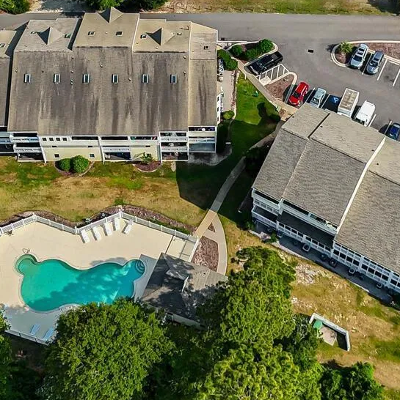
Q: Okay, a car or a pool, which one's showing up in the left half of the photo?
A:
pool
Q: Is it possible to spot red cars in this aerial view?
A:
Yes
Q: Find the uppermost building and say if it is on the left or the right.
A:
left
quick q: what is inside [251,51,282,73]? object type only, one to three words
truck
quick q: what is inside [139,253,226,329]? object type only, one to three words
building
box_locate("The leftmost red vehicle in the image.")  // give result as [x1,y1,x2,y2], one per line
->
[288,82,310,106]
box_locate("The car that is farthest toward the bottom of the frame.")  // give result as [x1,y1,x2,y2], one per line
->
[384,120,400,140]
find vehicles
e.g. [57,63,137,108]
[251,51,282,73]
[366,51,384,74]
[384,120,400,140]
[351,44,368,68]
[337,84,360,120]
[288,82,310,106]
[354,98,375,128]
[309,86,326,110]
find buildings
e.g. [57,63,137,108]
[139,253,226,329]
[246,104,400,292]
[0,6,222,168]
